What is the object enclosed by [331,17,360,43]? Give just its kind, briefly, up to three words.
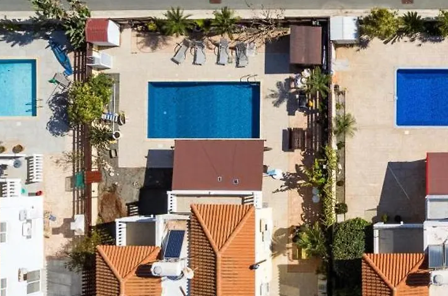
shed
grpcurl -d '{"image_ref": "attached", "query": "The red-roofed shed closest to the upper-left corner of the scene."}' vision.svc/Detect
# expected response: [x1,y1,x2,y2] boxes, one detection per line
[85,18,118,47]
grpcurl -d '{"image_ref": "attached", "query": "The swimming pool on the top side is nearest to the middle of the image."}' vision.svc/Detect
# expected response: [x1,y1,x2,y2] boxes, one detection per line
[145,73,261,140]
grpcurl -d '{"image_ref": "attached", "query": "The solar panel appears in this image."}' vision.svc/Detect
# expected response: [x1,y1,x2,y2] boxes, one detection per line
[163,229,185,260]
